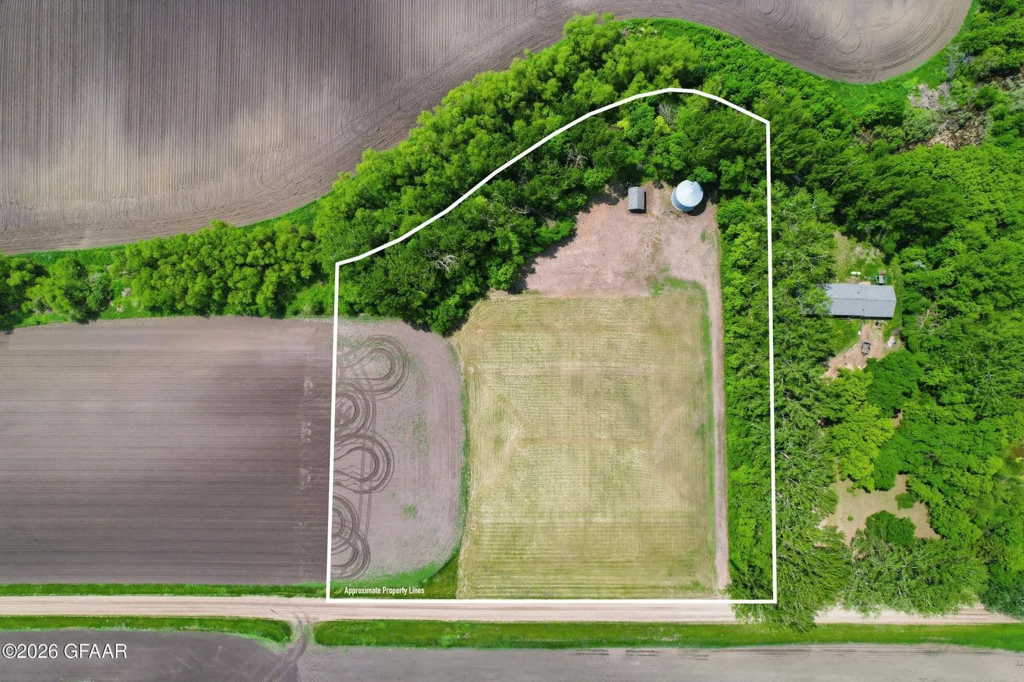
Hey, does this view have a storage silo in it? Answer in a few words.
Yes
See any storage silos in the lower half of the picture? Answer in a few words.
No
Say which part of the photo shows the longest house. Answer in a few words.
right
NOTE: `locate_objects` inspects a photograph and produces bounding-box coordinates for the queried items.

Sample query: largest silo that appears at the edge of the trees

[671,180,704,212]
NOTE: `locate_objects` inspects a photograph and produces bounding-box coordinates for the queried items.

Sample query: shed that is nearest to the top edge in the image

[627,187,644,212]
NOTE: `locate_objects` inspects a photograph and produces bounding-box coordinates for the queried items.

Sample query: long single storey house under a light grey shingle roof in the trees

[819,281,896,323]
